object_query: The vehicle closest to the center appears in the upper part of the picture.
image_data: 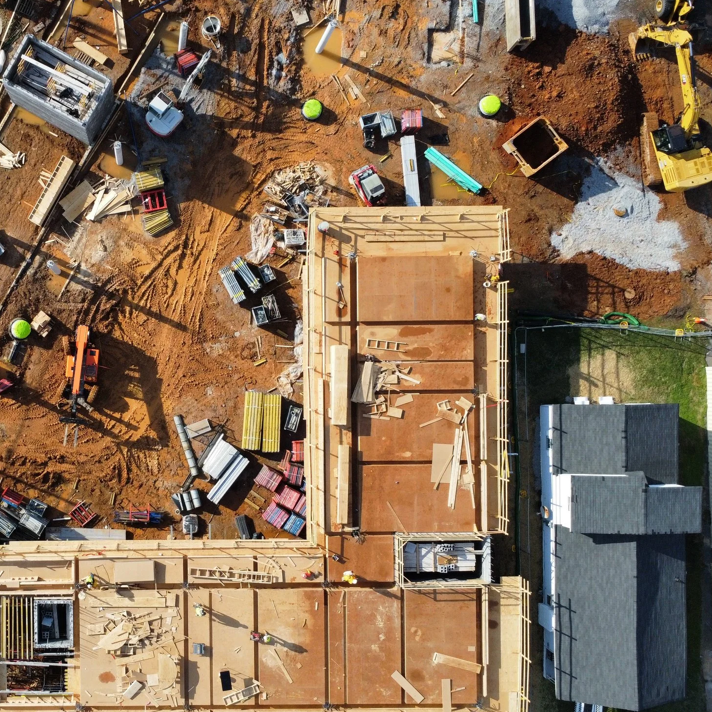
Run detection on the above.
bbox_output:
[346,165,389,206]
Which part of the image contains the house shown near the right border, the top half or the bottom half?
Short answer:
bottom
